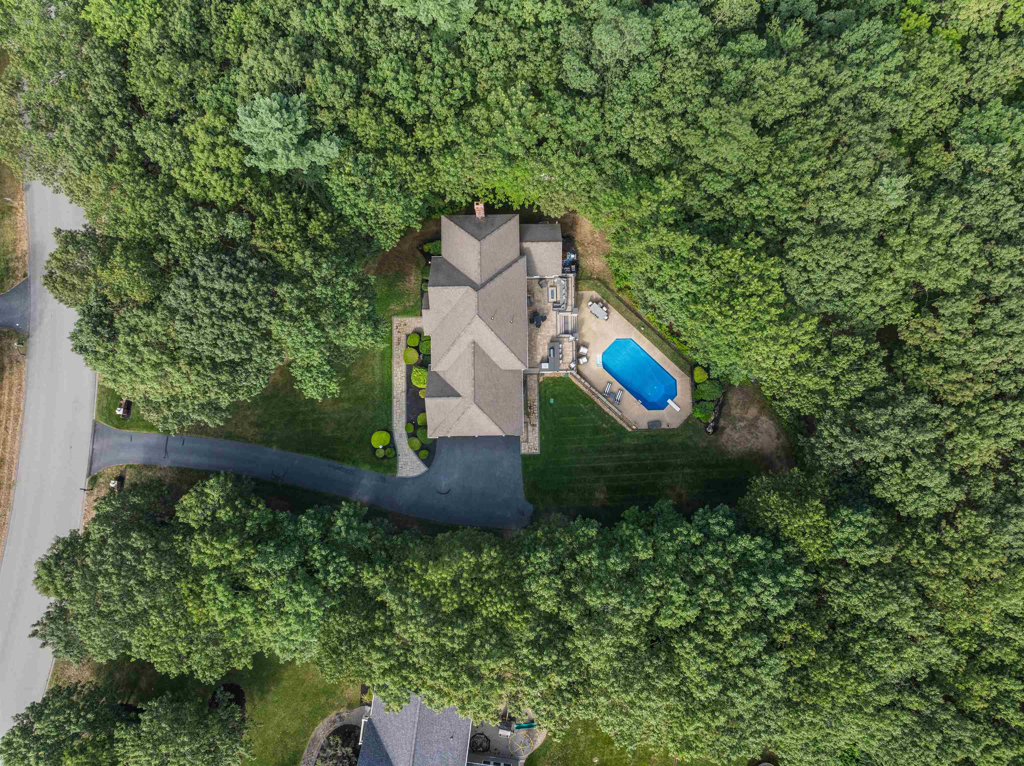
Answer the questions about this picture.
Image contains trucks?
No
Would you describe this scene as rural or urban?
rural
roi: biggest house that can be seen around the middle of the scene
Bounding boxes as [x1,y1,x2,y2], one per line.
[422,201,562,438]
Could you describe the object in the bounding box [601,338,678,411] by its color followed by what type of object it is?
blue swimming pool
